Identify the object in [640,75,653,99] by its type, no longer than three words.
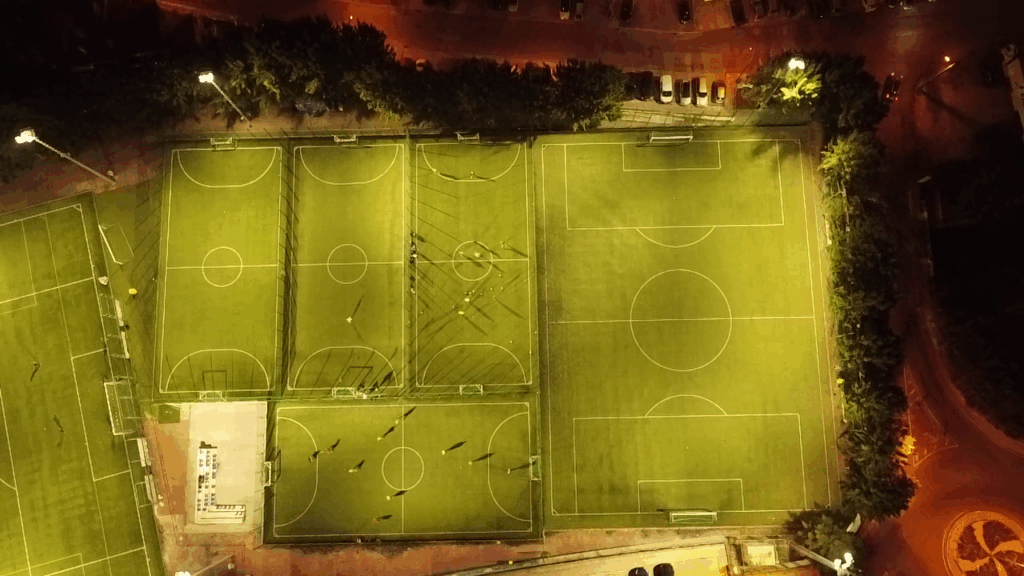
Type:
vehicle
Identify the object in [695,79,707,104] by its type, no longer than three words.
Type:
vehicle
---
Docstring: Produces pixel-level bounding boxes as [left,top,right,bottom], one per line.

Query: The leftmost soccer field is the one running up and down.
[0,192,165,576]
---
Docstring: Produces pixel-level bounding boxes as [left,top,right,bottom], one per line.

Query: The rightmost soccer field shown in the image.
[534,127,840,530]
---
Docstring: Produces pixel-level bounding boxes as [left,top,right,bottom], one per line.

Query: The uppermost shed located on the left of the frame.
[158,406,182,424]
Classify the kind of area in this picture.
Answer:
sports ground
